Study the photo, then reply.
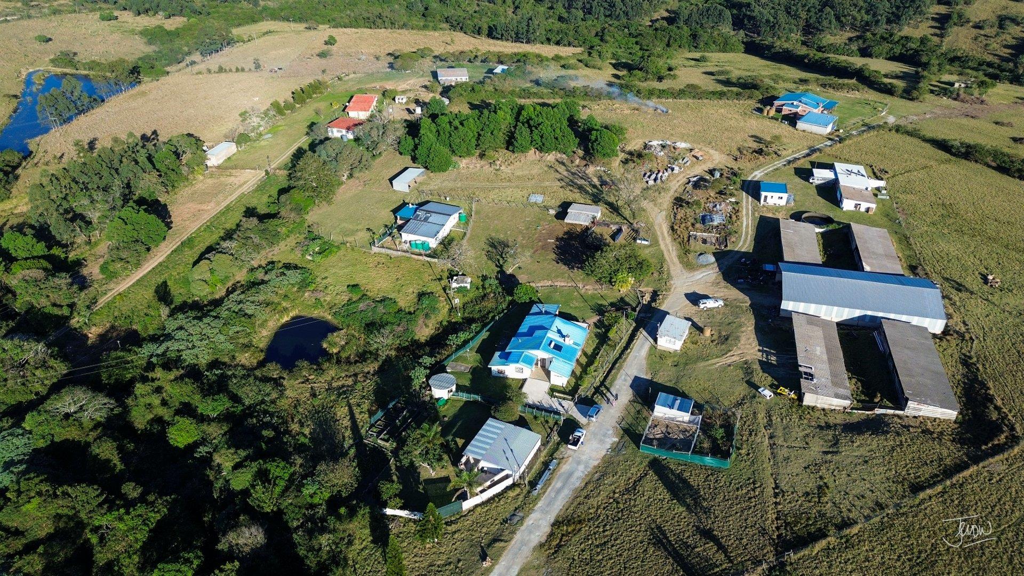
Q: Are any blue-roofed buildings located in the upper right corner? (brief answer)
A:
Yes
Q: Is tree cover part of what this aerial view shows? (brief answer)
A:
Yes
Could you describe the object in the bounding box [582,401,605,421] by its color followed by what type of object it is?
blue car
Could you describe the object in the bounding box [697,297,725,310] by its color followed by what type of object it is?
white vehicle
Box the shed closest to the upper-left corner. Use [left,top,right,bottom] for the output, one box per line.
[205,141,237,169]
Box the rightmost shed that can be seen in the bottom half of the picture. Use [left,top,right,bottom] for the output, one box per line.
[881,320,958,421]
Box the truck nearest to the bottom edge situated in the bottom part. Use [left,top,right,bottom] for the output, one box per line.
[565,424,589,449]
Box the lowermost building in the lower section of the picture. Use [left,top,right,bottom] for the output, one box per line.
[463,417,538,487]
